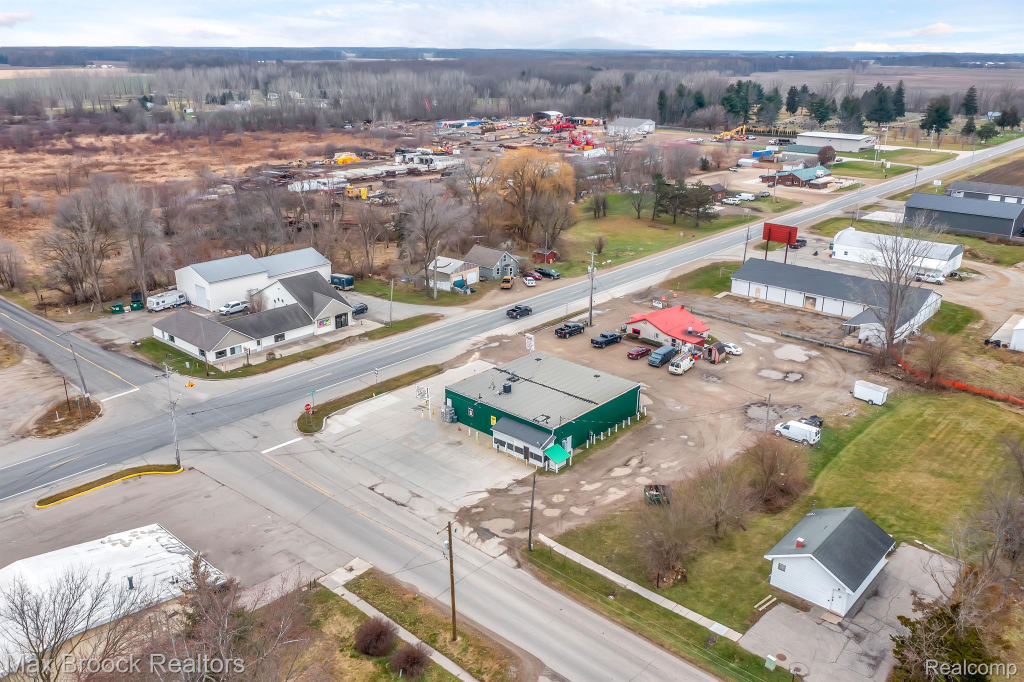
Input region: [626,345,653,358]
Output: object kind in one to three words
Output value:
vehicle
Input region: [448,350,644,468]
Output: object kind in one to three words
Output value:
building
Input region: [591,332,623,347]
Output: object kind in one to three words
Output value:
vehicle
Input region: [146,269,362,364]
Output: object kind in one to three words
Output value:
building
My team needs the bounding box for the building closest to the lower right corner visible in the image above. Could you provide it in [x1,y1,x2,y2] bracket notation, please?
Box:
[762,500,898,620]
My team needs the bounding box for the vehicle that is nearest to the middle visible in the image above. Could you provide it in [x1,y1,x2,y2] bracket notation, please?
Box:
[505,306,533,319]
